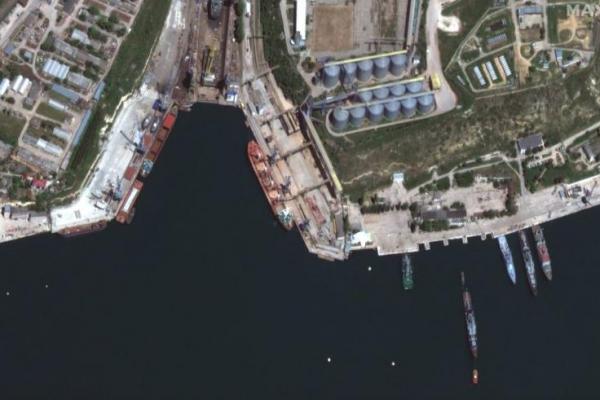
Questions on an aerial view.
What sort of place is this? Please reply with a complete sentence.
The area seen from above is a port.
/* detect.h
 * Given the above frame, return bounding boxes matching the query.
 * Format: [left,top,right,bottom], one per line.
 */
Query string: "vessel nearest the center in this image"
[248,139,293,232]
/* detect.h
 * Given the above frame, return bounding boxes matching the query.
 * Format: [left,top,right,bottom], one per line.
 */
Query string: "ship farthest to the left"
[59,222,108,237]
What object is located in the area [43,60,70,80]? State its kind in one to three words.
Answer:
building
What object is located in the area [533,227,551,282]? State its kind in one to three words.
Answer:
ship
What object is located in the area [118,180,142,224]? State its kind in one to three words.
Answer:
ship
